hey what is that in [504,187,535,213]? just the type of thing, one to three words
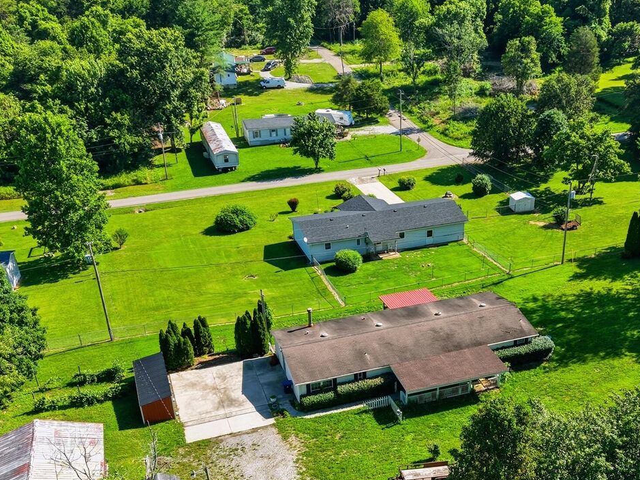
shed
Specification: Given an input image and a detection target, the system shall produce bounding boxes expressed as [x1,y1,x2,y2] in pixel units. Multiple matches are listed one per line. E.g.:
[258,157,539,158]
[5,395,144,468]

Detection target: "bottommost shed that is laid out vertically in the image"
[134,352,176,426]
